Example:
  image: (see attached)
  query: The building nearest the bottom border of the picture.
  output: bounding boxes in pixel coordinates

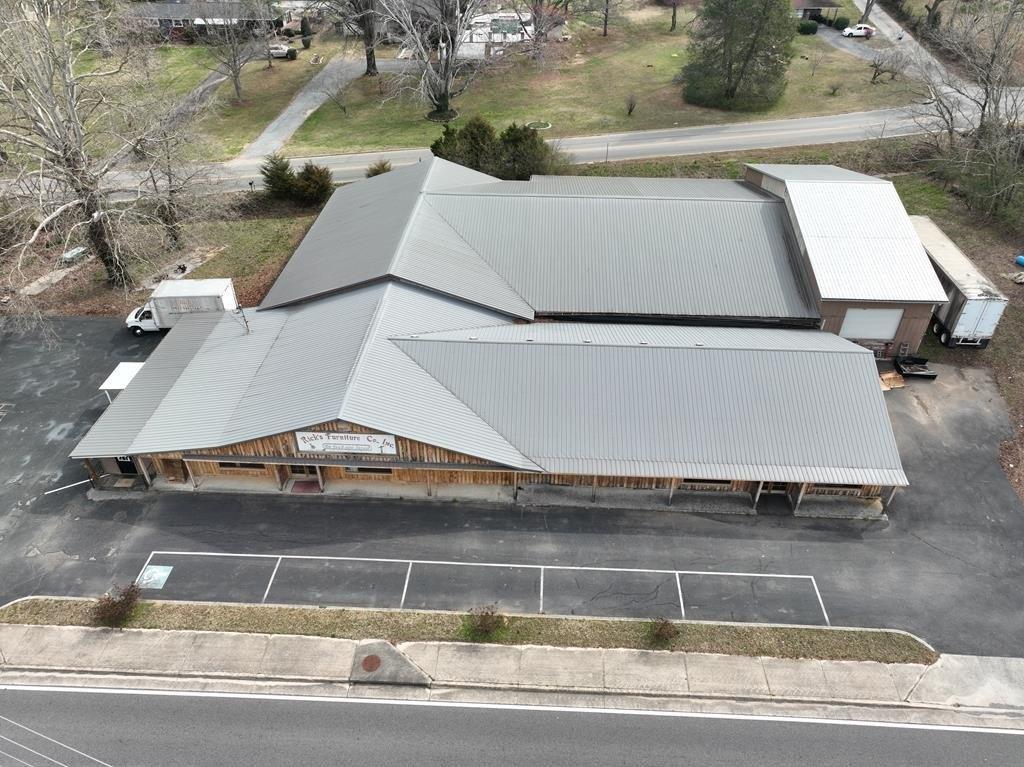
[72,288,913,522]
